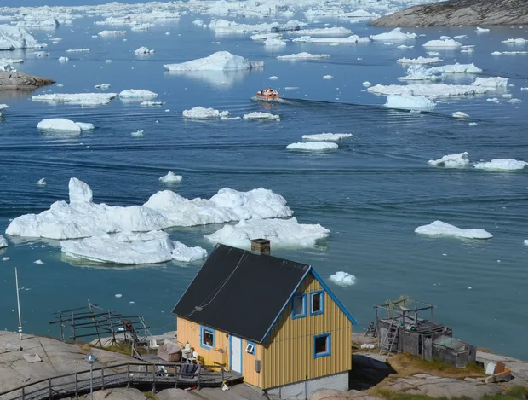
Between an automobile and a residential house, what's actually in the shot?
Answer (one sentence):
This aerial view contains a residential house.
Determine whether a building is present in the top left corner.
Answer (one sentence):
No, I see no building in the top left corner.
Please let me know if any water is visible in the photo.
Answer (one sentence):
Yes, water shows up in the scene.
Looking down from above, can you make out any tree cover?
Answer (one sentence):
No, no tree cover is visible.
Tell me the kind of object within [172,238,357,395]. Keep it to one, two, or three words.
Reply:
house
